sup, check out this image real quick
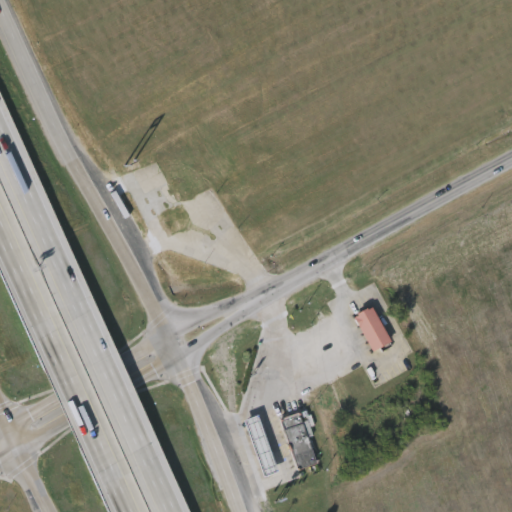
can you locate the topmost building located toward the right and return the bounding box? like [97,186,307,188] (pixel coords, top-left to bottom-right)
[356,309,392,352]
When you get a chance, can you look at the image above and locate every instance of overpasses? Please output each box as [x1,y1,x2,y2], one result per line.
[0,92,190,512]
